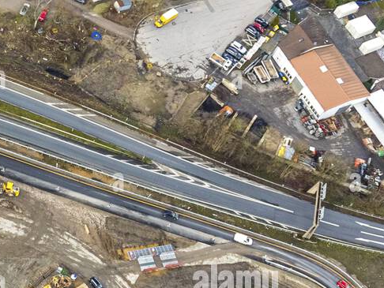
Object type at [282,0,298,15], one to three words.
camper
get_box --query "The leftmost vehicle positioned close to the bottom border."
[90,274,106,288]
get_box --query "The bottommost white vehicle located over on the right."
[234,228,256,245]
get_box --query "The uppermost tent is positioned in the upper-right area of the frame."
[330,1,359,24]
